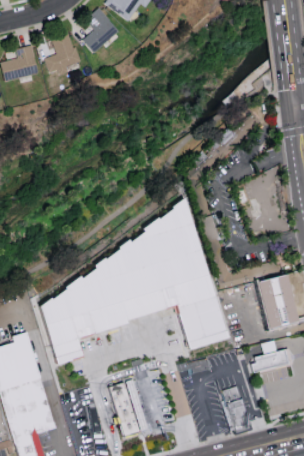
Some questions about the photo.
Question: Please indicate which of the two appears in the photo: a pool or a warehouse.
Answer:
warehouse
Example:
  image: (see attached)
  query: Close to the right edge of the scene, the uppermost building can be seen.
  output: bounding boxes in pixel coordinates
[259,274,304,330]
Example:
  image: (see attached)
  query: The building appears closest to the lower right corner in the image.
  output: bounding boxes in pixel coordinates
[228,400,248,434]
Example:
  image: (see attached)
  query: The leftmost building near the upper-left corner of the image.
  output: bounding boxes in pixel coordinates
[1,46,38,81]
